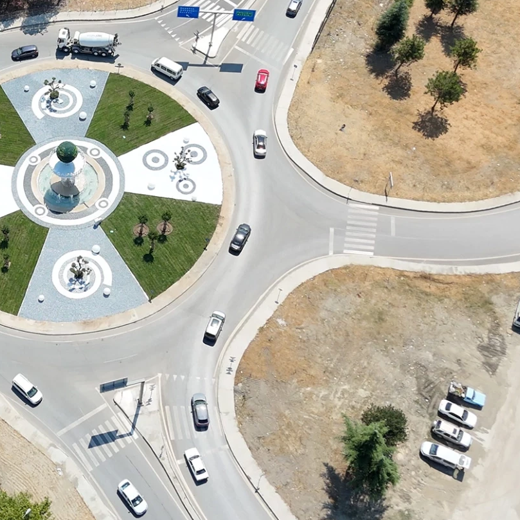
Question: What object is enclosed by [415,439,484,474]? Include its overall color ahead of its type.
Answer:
white van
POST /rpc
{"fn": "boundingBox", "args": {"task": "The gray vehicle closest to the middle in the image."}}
[228,223,251,255]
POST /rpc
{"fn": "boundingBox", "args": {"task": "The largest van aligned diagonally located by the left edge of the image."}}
[8,371,46,408]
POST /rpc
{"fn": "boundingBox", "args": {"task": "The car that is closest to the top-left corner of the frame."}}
[10,44,39,61]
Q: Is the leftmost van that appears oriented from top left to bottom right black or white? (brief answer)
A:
white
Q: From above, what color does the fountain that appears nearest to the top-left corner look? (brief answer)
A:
white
